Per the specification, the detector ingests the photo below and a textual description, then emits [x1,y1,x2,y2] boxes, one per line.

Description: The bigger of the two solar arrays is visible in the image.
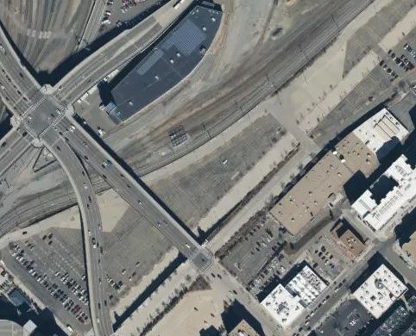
[181,20,206,55]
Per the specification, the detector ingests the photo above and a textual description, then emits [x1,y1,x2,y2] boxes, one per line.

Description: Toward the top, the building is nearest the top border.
[108,6,222,124]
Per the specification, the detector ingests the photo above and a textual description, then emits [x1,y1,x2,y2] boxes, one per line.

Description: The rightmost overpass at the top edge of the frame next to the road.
[53,0,196,103]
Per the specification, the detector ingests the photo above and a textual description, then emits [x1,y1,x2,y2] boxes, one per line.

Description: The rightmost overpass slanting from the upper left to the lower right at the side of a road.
[62,113,228,283]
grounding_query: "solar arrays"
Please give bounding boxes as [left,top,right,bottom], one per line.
[138,48,163,74]
[181,20,206,55]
